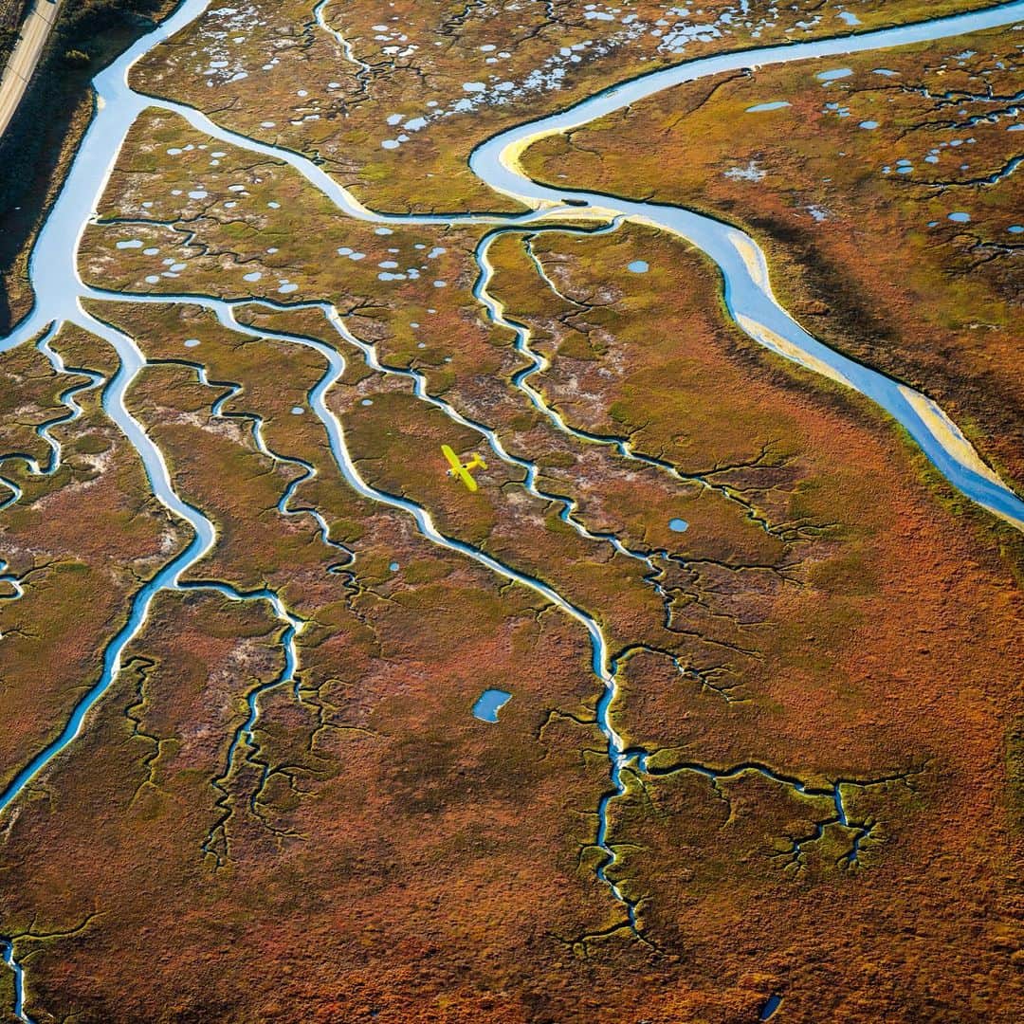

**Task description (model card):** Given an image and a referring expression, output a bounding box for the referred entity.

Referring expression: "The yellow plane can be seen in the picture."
[443,446,490,489]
